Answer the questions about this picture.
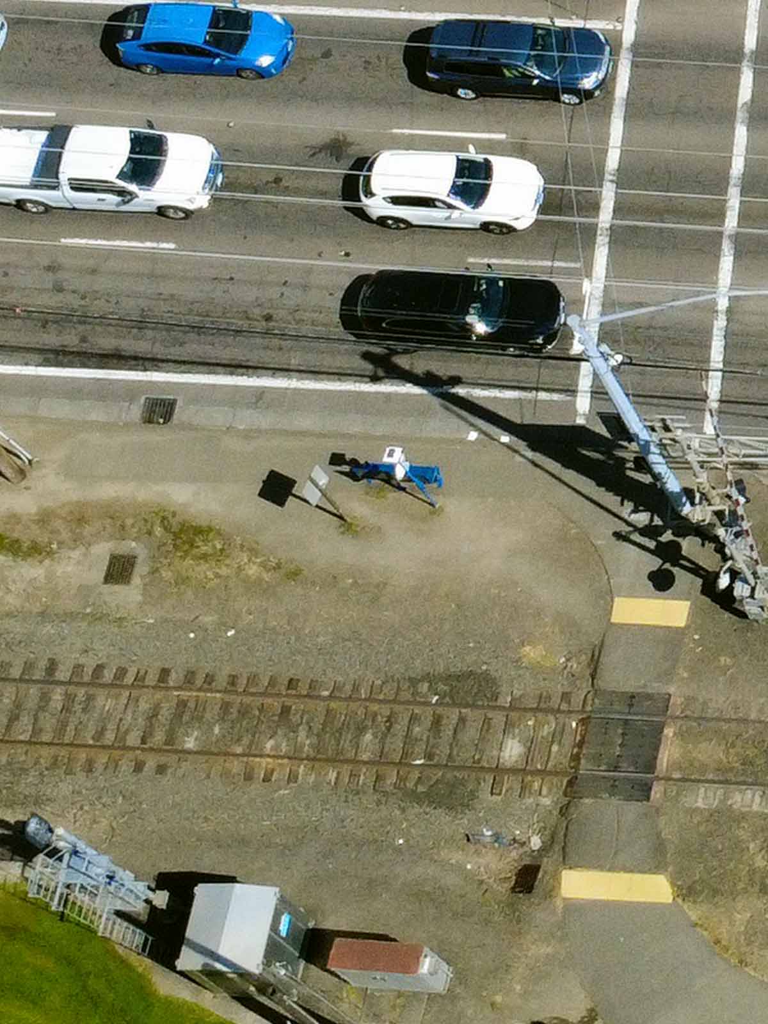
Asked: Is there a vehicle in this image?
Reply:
Yes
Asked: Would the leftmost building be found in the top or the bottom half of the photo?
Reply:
bottom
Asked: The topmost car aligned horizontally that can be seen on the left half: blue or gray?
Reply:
blue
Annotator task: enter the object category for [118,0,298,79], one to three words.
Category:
car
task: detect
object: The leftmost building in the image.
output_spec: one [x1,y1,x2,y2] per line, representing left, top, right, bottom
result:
[175,883,323,993]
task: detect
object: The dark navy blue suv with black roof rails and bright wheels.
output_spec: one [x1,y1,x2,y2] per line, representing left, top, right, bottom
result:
[420,6,614,104]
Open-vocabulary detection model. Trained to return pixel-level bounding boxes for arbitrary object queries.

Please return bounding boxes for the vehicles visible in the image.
[0,120,222,218]
[356,139,547,232]
[420,6,614,104]
[349,258,567,357]
[118,0,298,79]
